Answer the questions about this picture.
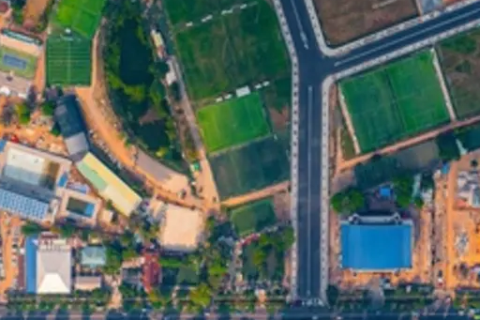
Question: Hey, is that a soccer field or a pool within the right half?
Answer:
soccer field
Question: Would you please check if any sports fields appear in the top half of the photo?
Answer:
Yes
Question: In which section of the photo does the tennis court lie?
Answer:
top left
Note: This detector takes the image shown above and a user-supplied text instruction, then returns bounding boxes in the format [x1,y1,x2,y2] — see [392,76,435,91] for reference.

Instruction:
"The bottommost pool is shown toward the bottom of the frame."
[56,188,100,226]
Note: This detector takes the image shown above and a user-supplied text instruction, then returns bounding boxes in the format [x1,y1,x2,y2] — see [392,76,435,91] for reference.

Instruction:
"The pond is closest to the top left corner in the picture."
[116,13,154,83]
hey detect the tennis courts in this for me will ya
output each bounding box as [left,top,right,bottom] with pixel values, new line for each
[0,50,36,80]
